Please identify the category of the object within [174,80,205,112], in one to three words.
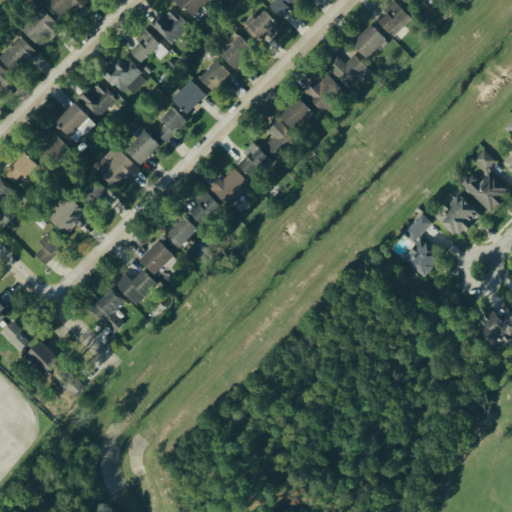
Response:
house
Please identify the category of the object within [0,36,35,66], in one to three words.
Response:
house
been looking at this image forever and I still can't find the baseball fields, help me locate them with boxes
[0,372,40,481]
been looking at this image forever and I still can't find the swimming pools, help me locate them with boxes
[161,295,175,307]
[394,240,408,255]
